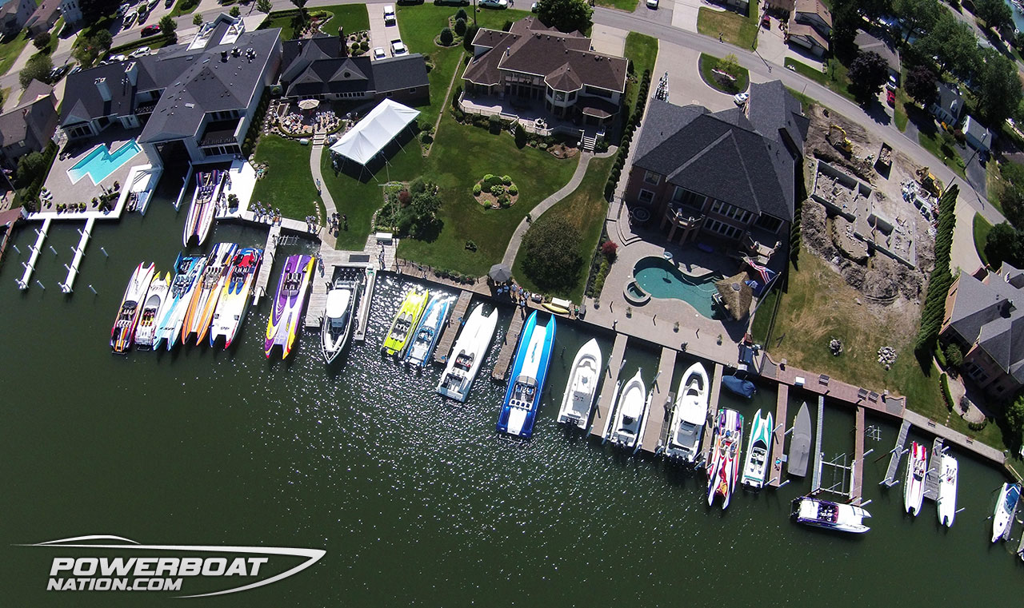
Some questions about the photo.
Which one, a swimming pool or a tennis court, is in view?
swimming pool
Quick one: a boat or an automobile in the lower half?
boat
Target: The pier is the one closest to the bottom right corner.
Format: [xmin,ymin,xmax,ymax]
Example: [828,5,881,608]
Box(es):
[999,483,1024,541]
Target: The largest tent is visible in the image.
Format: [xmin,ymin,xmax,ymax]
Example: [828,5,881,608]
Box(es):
[318,98,429,181]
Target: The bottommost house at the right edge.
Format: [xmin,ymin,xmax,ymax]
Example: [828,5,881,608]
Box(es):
[939,262,1024,399]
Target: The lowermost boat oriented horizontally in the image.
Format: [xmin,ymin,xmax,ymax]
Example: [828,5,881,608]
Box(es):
[787,496,870,535]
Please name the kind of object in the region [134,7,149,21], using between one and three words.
car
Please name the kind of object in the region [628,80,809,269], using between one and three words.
house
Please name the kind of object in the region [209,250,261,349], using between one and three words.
boat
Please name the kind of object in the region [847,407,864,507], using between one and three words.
pier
